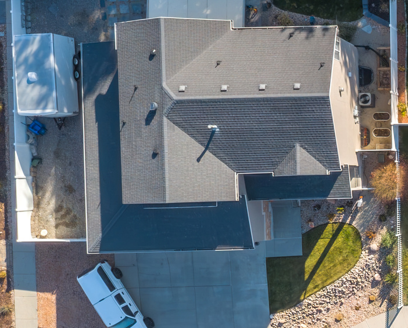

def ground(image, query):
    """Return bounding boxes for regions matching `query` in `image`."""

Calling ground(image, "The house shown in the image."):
[83,17,359,252]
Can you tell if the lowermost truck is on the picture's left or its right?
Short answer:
left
